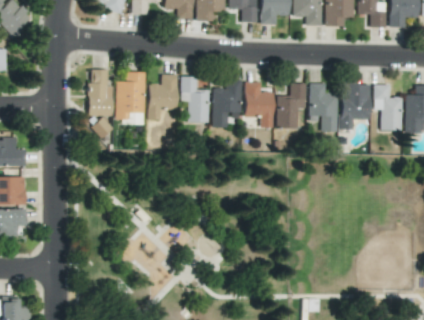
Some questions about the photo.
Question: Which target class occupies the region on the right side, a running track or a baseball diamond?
baseball diamond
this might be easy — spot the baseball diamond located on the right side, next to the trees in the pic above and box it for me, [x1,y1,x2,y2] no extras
[358,230,412,290]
